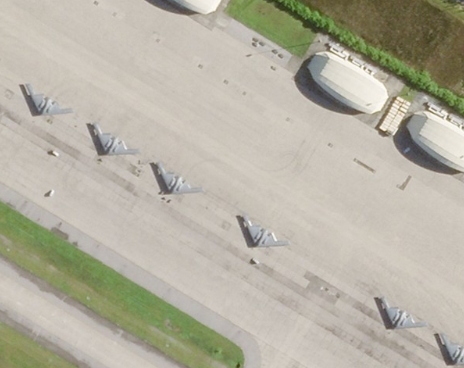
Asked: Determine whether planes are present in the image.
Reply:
Yes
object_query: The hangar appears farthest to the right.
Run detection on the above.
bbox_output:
[405,112,464,174]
